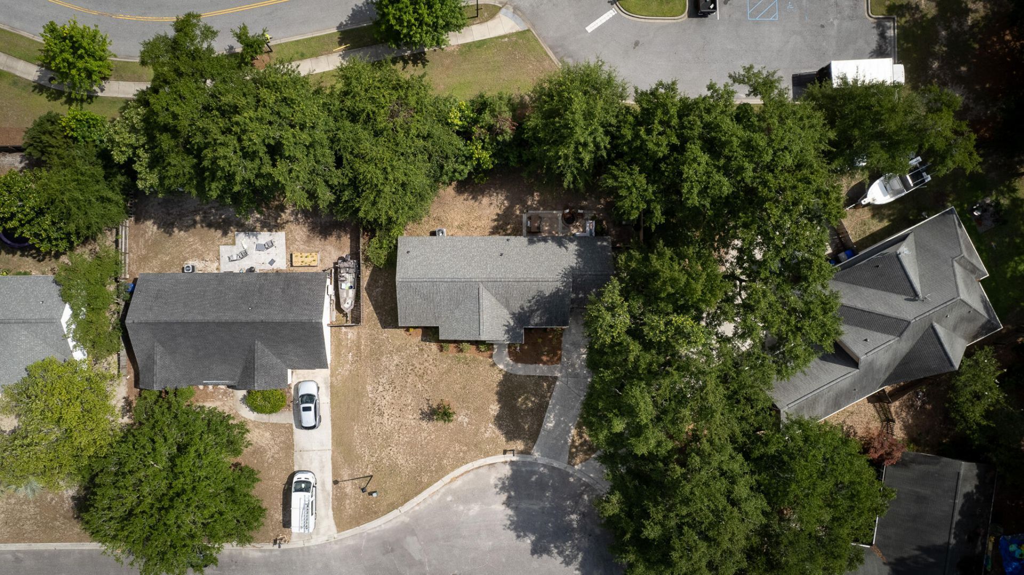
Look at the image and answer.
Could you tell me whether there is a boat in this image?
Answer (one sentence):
Yes, there is a boat in the image.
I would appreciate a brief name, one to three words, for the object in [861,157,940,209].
boat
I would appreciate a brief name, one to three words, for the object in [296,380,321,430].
car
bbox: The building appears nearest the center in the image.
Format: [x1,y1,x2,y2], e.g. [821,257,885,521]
[395,235,615,343]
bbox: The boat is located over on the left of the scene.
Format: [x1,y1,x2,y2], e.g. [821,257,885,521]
[338,252,355,313]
